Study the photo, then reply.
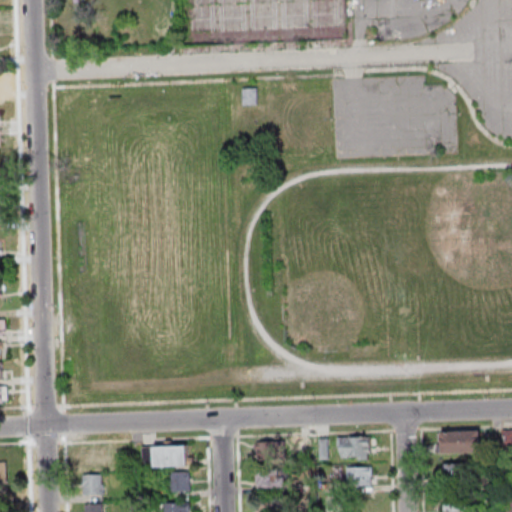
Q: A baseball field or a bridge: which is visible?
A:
baseball field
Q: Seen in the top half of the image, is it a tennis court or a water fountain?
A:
tennis court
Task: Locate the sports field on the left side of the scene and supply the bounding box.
[66,90,233,374]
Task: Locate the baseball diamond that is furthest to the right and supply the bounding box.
[422,172,512,344]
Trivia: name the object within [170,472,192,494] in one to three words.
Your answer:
house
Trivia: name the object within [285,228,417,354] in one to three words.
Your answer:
baseball field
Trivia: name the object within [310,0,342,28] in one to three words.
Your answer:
tennis court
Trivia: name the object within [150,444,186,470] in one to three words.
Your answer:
building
